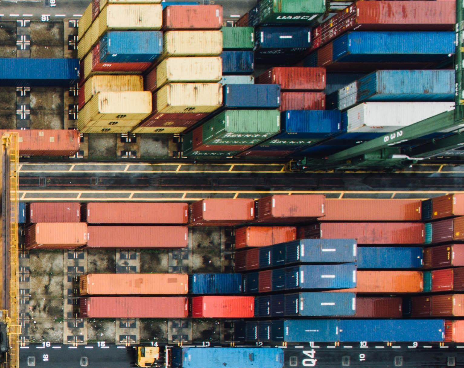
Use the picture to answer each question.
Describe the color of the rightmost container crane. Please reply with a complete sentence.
The rightmost container crane looks green in the image.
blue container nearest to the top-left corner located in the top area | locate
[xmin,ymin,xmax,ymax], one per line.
[0,58,80,86]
